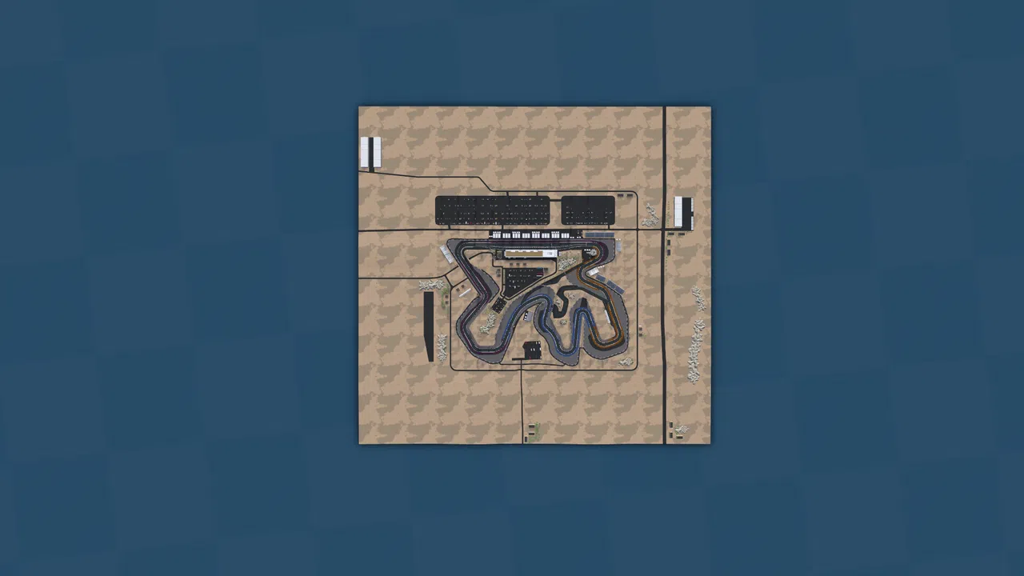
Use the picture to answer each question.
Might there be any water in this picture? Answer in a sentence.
Yes, water shows up in the scene.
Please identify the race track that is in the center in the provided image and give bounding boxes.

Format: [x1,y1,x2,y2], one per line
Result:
[458,243,621,354]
